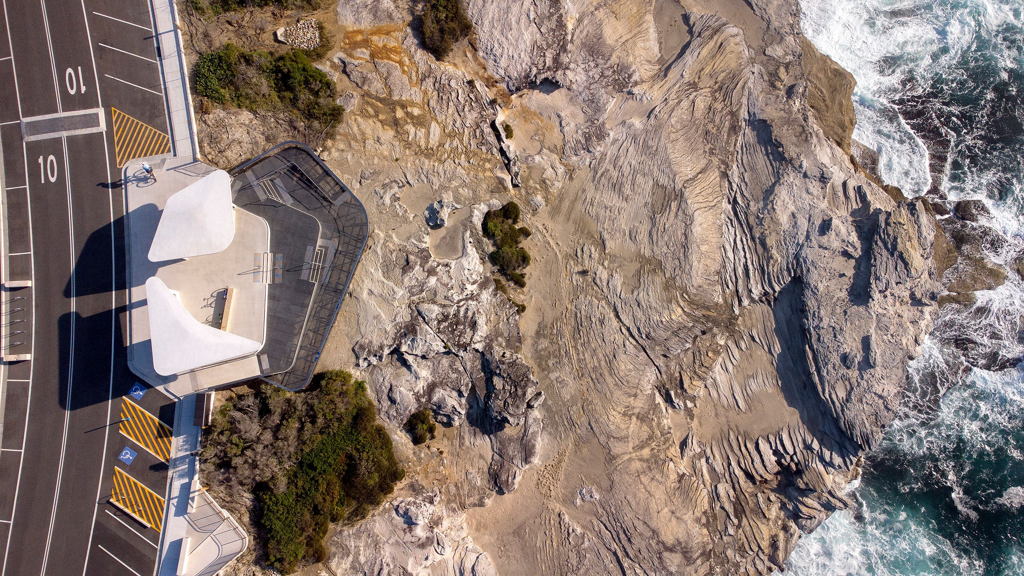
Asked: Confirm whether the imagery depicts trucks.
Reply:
No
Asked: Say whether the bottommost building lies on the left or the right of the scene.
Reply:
left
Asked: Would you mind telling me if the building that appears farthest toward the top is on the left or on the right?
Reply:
left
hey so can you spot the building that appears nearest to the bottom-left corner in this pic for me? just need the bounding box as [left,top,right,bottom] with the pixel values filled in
[146,277,262,376]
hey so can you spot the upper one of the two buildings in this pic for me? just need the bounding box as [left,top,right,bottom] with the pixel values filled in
[148,170,236,262]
